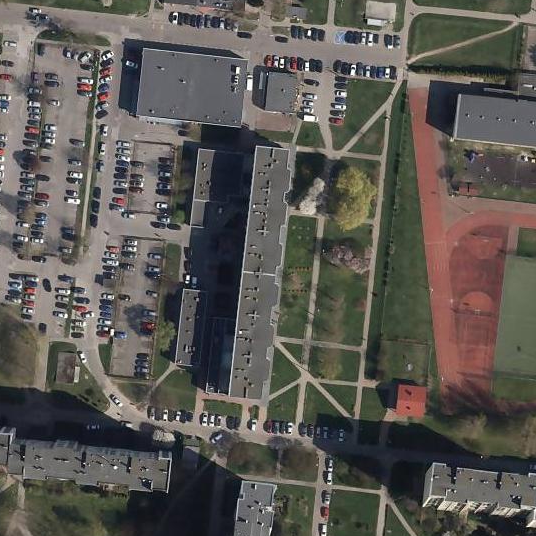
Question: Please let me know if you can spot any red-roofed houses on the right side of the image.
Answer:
Yes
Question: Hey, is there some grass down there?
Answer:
Yes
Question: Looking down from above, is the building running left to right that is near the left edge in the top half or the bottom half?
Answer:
bottom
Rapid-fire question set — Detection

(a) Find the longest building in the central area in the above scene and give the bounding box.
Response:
[231,146,293,403]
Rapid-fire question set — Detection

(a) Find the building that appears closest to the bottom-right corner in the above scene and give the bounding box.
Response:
[429,462,536,521]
